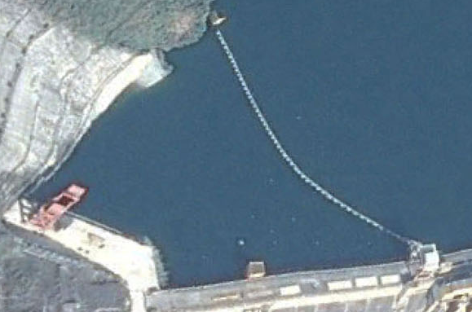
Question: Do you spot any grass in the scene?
No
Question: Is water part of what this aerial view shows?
Yes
